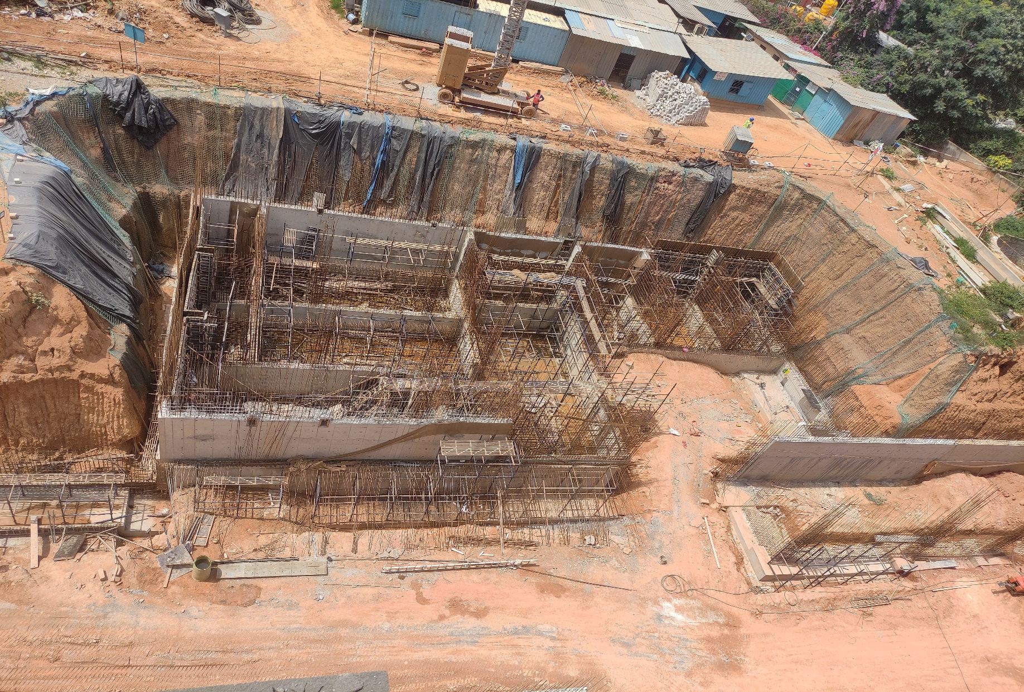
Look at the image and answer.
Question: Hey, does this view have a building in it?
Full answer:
Yes, this view includes a building.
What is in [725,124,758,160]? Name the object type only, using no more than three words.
building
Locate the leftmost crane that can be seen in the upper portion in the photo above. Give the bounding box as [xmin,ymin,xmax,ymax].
[439,0,538,122]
